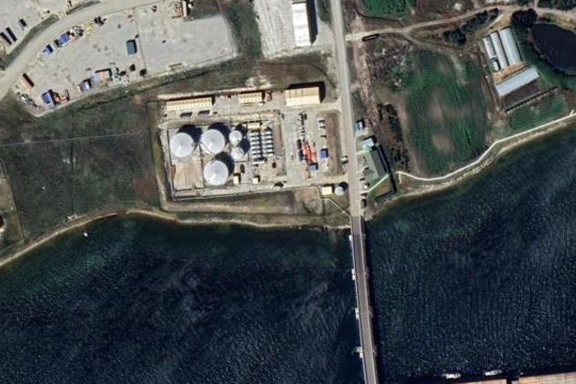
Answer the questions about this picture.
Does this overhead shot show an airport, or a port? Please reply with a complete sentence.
This looks like a port.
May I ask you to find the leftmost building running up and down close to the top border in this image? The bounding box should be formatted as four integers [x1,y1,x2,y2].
[291,0,311,45]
